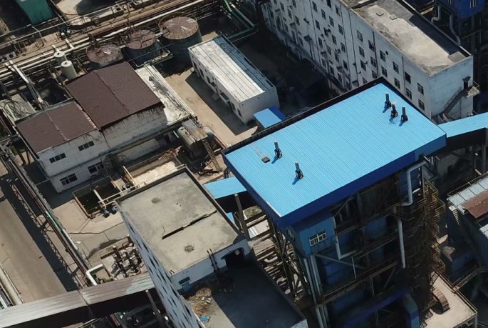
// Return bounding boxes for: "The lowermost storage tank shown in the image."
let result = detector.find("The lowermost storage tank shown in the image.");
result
[183,124,214,170]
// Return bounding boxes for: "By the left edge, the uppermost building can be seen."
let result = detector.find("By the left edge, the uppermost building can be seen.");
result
[11,59,175,187]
